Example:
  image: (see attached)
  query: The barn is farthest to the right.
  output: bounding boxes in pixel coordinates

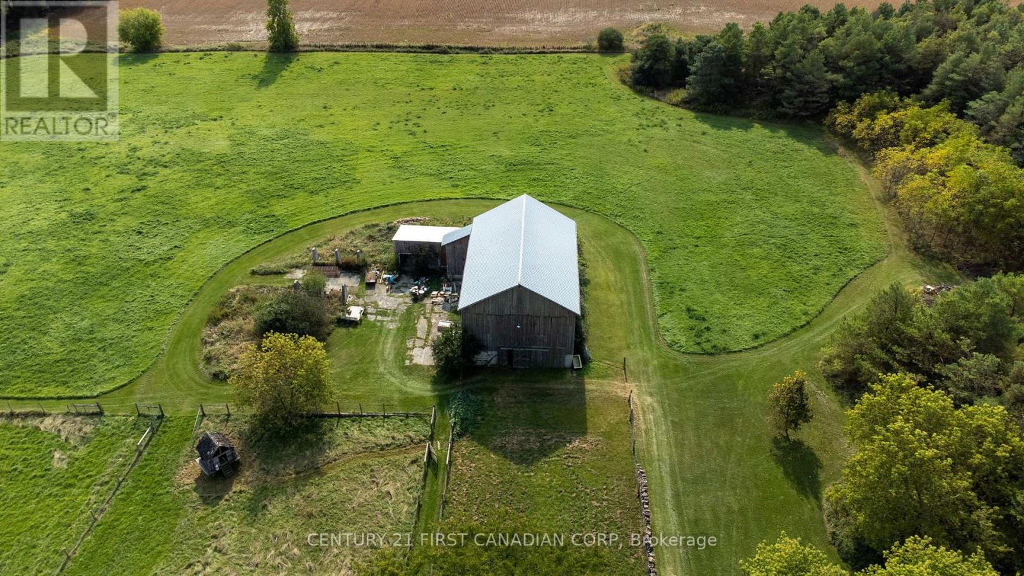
[456,193,580,370]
